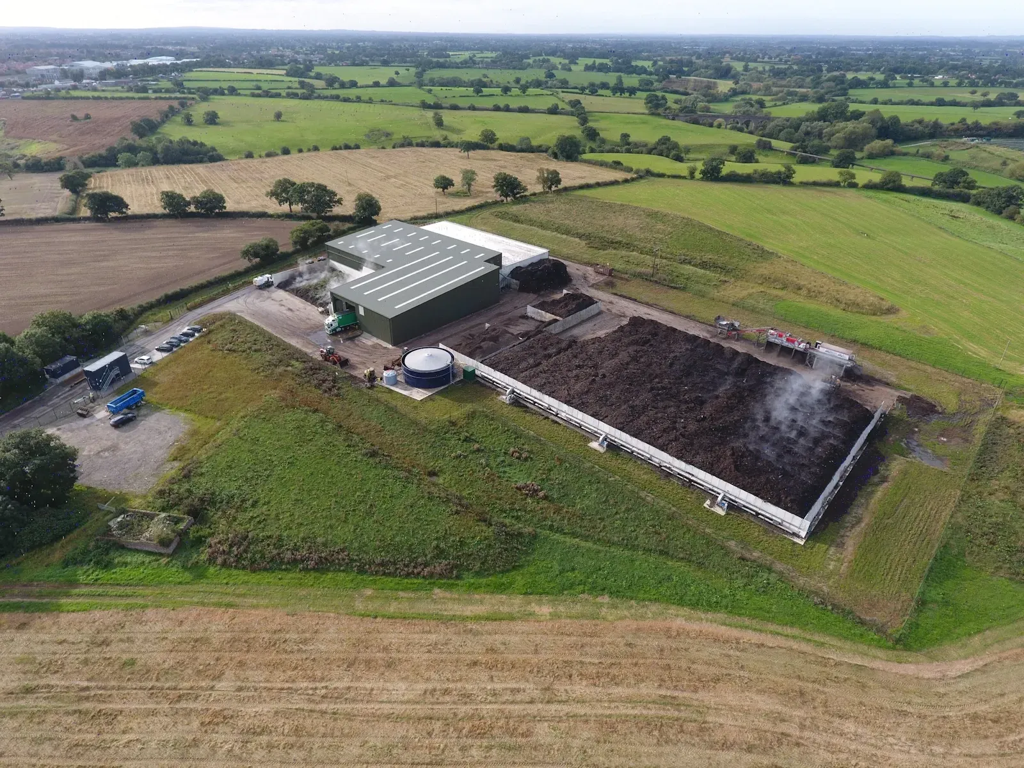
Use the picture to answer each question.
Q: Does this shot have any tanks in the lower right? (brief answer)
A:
No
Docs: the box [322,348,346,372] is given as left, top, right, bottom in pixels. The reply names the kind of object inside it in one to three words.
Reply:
work vehicle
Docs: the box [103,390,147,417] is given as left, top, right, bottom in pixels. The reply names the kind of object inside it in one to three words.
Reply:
trailer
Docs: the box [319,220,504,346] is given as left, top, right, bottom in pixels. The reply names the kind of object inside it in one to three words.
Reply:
shed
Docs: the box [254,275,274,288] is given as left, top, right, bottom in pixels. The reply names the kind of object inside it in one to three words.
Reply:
vehicle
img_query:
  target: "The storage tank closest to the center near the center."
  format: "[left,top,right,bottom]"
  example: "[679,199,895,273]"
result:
[401,347,453,388]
